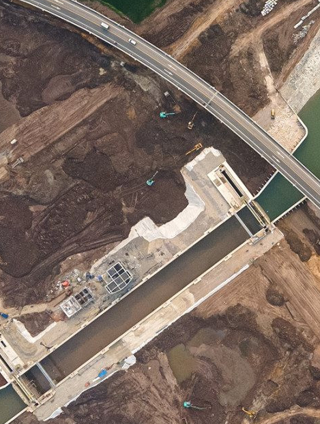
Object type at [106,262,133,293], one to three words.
building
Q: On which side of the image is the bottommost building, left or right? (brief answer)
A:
left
